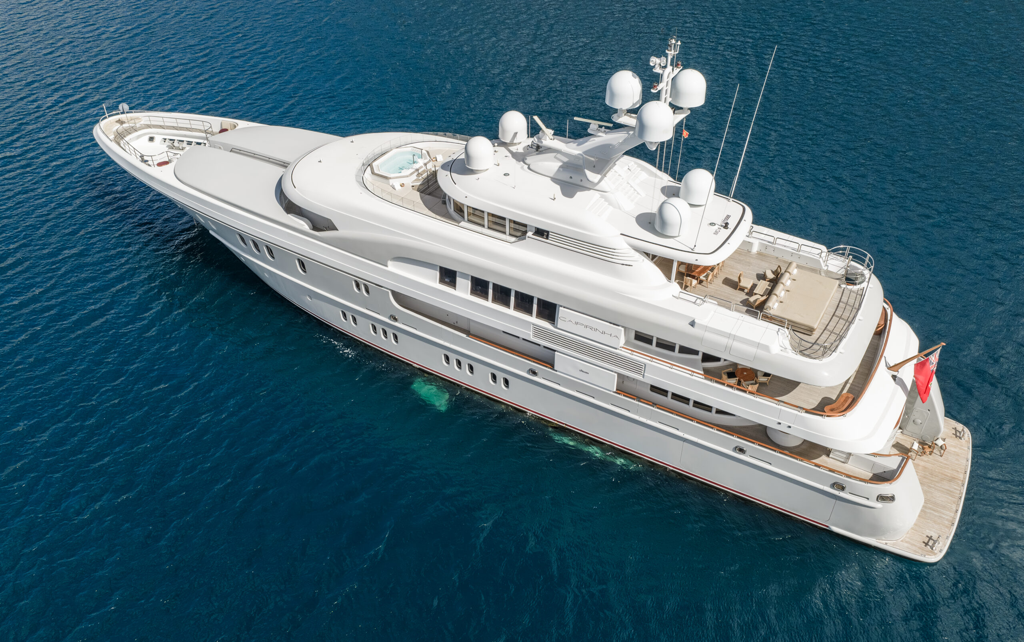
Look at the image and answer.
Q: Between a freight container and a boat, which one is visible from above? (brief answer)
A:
boat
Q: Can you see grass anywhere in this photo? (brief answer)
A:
No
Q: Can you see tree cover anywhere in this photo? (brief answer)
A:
No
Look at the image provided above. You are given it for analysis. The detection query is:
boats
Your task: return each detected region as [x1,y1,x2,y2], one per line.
[97,28,970,568]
